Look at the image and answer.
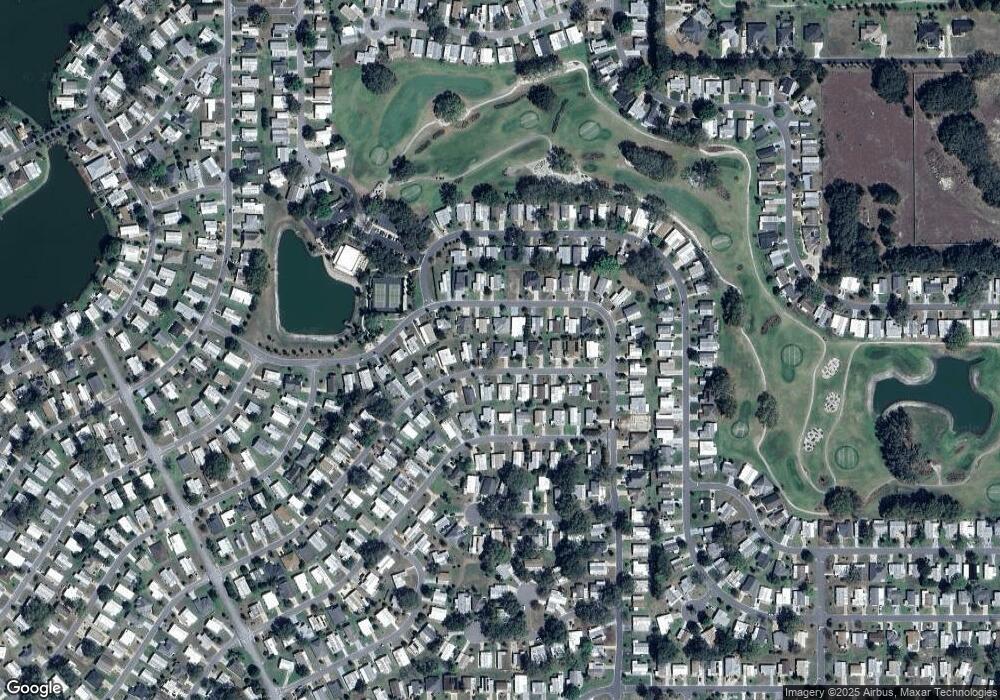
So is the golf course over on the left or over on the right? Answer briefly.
right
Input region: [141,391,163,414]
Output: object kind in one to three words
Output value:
house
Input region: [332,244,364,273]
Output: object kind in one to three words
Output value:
building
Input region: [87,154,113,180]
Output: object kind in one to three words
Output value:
house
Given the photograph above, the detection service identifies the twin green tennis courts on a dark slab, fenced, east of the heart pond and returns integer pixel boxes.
[372,277,406,310]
